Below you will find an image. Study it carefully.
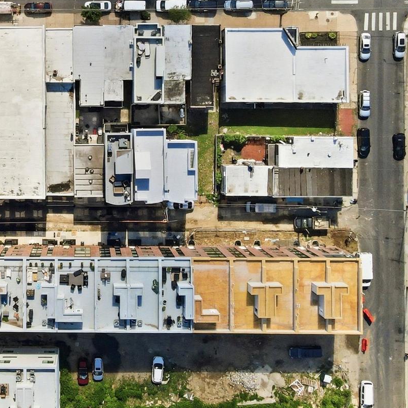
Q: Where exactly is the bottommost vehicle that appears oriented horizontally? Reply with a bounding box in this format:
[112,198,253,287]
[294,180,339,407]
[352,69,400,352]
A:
[288,346,323,360]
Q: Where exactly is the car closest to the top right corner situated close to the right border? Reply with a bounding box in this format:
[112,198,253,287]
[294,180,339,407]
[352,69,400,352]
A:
[392,32,406,59]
